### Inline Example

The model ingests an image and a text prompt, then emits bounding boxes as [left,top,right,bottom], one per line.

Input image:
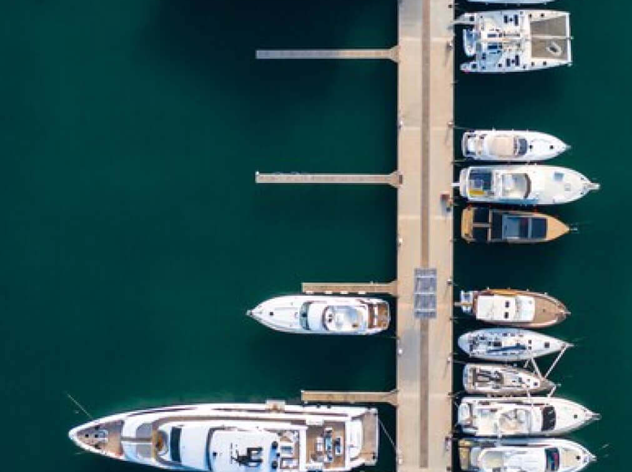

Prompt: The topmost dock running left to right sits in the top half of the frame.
[256,46,397,62]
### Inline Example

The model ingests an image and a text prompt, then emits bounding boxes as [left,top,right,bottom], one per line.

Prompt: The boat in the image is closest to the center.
[244,293,397,336]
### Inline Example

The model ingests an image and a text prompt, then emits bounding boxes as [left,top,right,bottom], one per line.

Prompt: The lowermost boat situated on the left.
[67,395,396,472]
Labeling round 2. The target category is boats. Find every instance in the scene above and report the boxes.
[451,8,573,73]
[453,207,577,245]
[457,129,571,162]
[452,437,598,472]
[244,293,397,336]
[67,395,396,472]
[450,162,601,206]
[453,394,601,439]
[455,329,574,370]
[453,365,561,406]
[464,26,475,56]
[453,288,571,330]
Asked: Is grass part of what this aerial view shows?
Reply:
No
